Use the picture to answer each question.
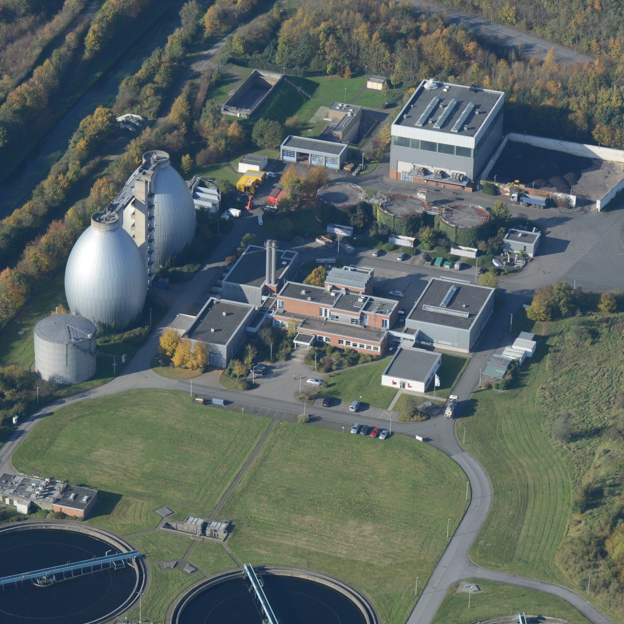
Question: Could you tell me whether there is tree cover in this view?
Yes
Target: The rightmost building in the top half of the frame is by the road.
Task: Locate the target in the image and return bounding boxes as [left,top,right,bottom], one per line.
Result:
[503,228,540,257]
